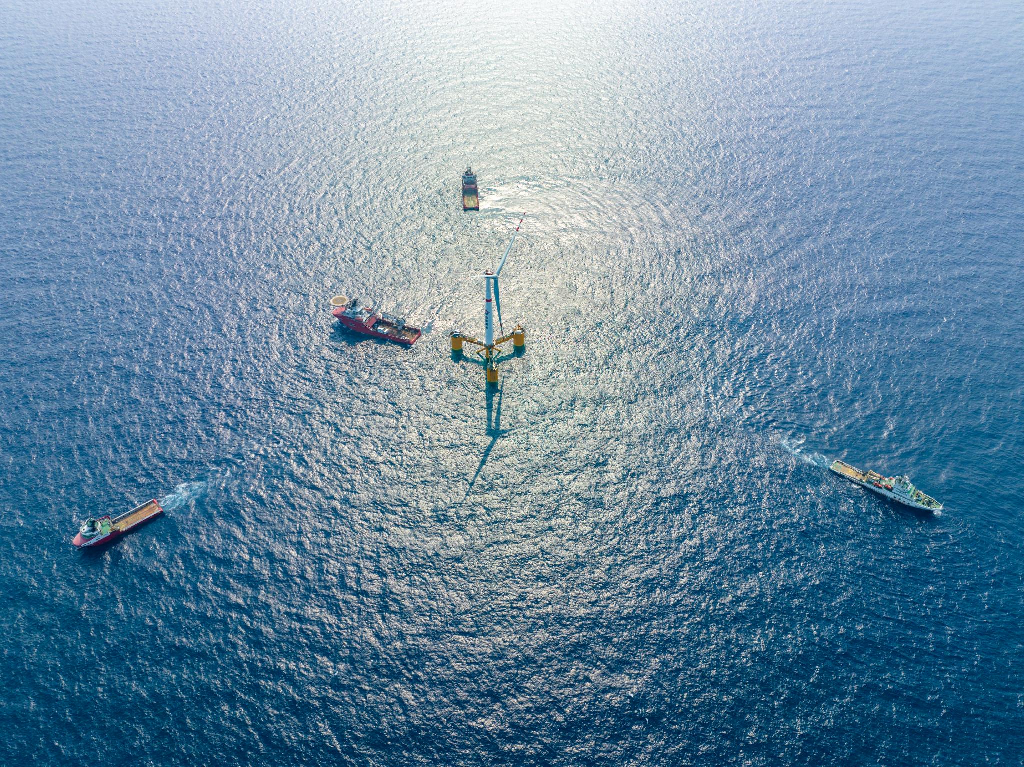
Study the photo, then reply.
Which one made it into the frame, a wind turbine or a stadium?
wind turbine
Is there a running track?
No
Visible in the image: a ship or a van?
ship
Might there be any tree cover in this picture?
No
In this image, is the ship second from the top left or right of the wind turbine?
to the left of it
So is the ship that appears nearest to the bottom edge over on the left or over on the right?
left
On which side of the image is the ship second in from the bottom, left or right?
right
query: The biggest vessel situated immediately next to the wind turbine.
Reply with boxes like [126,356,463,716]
[330,296,422,345]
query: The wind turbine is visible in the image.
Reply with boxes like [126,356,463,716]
[449,214,526,385]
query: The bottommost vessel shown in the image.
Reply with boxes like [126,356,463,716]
[71,497,163,551]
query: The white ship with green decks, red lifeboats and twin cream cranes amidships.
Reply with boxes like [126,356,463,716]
[831,460,945,514]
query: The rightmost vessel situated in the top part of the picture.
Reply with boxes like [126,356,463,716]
[462,164,479,209]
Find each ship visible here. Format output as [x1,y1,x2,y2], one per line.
[462,164,479,209]
[71,497,163,551]
[831,460,945,514]
[330,296,422,345]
